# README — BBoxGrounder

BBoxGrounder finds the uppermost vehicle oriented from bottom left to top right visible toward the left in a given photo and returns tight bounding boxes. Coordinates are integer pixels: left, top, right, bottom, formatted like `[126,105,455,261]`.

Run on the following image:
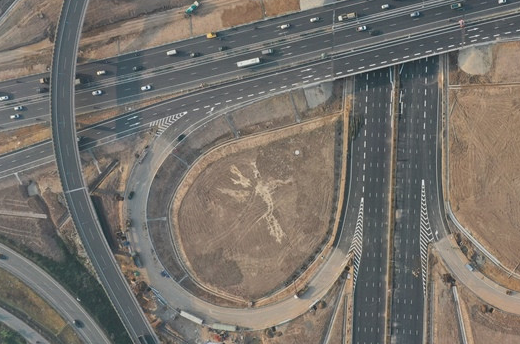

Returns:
[183,0,201,15]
